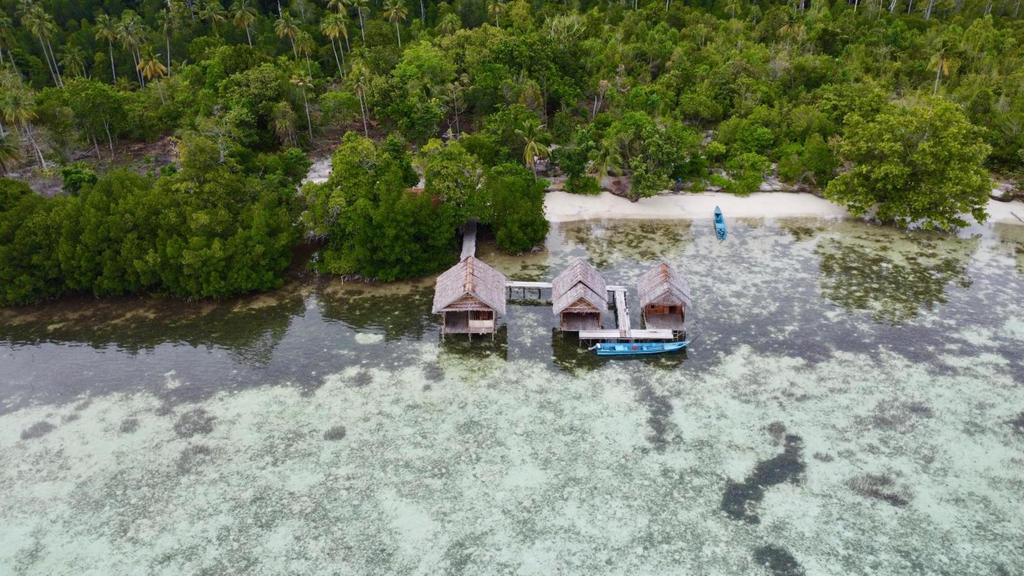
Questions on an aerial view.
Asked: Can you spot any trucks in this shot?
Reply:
No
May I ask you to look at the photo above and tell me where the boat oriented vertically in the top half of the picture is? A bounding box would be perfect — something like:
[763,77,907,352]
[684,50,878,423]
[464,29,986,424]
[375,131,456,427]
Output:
[714,201,728,244]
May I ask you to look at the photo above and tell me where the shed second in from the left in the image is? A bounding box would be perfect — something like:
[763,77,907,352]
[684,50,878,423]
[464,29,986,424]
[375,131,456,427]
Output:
[553,255,612,342]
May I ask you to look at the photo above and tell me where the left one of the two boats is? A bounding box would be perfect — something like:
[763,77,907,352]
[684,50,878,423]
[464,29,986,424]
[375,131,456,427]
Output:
[585,341,689,356]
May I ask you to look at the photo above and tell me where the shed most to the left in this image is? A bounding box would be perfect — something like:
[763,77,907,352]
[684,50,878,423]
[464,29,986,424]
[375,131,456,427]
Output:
[429,253,508,346]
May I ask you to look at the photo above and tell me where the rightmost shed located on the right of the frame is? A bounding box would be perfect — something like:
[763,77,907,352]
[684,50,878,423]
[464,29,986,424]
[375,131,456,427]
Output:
[639,257,697,341]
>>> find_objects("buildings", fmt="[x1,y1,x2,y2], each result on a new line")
[639,257,697,341]
[553,255,612,342]
[429,253,508,346]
